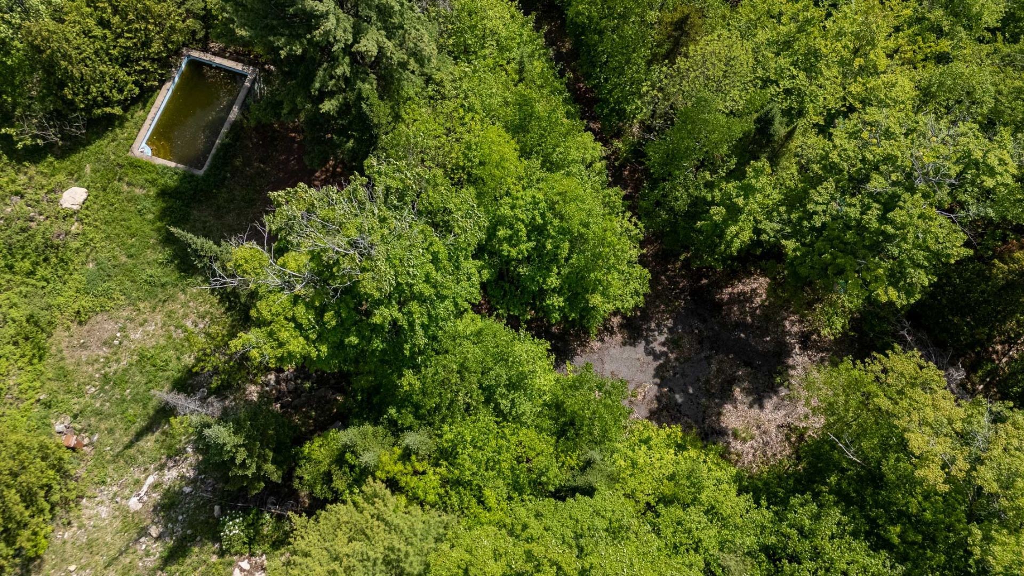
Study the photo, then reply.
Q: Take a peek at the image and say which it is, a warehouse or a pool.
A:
pool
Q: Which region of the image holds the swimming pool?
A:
top left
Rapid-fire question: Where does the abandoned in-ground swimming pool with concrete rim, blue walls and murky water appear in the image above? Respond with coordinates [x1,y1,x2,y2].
[130,52,262,176]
